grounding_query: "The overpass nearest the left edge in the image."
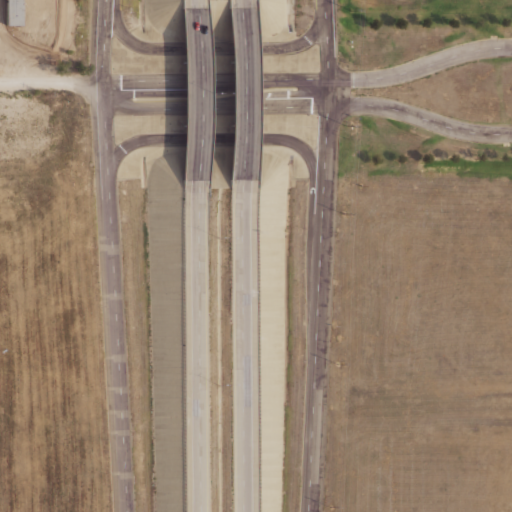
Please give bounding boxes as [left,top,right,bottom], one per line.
[185,0,214,202]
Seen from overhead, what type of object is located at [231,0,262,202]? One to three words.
overpass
